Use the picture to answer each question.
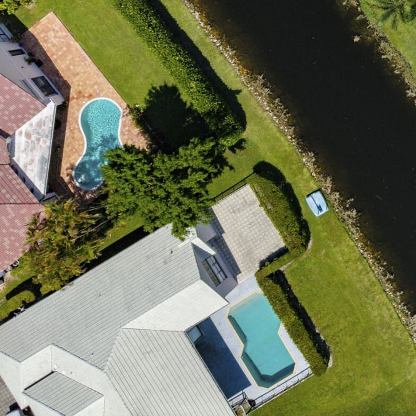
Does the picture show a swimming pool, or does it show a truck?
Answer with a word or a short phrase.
swimming pool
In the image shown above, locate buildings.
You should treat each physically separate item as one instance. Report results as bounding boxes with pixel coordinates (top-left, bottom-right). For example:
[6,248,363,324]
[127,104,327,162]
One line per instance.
[0,219,237,416]
[0,20,69,271]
